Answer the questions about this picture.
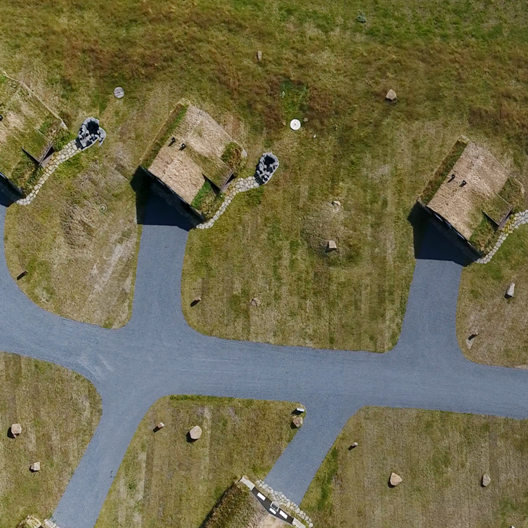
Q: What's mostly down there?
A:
grass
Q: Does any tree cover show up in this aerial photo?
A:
No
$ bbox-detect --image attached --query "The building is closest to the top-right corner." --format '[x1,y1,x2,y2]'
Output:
[417,134,528,257]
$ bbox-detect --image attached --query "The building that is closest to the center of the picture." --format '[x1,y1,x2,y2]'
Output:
[137,96,252,221]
